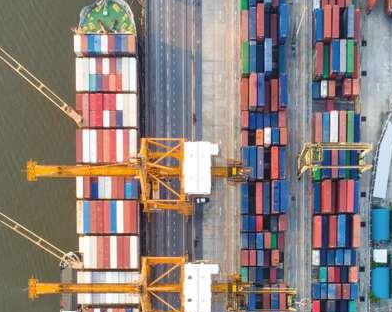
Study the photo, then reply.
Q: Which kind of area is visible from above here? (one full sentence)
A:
What you see here is a port.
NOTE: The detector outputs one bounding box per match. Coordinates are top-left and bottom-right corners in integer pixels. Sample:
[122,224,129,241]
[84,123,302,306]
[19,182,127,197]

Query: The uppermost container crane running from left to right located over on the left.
[18,138,254,219]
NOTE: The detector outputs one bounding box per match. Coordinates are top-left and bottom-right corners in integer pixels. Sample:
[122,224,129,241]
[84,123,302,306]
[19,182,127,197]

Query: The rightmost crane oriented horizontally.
[299,141,378,180]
